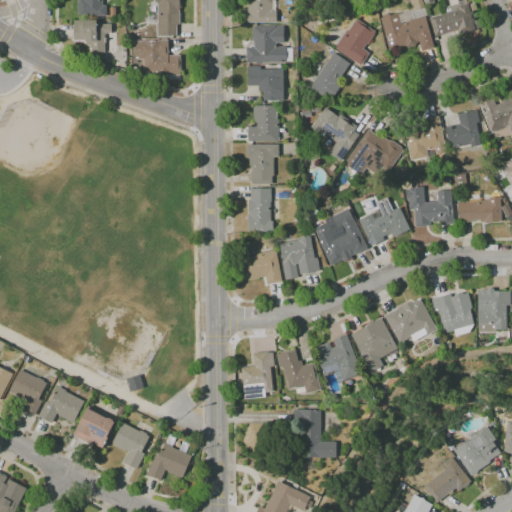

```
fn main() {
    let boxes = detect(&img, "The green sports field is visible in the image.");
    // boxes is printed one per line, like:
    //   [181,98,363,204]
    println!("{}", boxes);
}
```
[0,71,196,405]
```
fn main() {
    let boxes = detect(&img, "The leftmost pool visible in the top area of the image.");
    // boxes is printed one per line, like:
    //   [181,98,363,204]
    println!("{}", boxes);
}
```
[309,162,330,192]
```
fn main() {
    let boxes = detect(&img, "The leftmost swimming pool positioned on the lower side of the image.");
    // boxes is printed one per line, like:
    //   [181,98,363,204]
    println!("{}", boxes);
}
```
[326,374,344,396]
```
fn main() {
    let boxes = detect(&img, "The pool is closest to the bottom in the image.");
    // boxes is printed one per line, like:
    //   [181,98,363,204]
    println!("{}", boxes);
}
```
[454,414,489,440]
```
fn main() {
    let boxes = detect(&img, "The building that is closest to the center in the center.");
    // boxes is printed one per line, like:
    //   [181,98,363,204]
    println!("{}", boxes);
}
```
[248,250,282,284]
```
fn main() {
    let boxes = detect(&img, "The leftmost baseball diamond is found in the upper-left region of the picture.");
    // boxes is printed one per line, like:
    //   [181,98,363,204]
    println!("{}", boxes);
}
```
[0,74,78,179]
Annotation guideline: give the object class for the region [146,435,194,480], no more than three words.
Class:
house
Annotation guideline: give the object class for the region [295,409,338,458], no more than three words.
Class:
house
